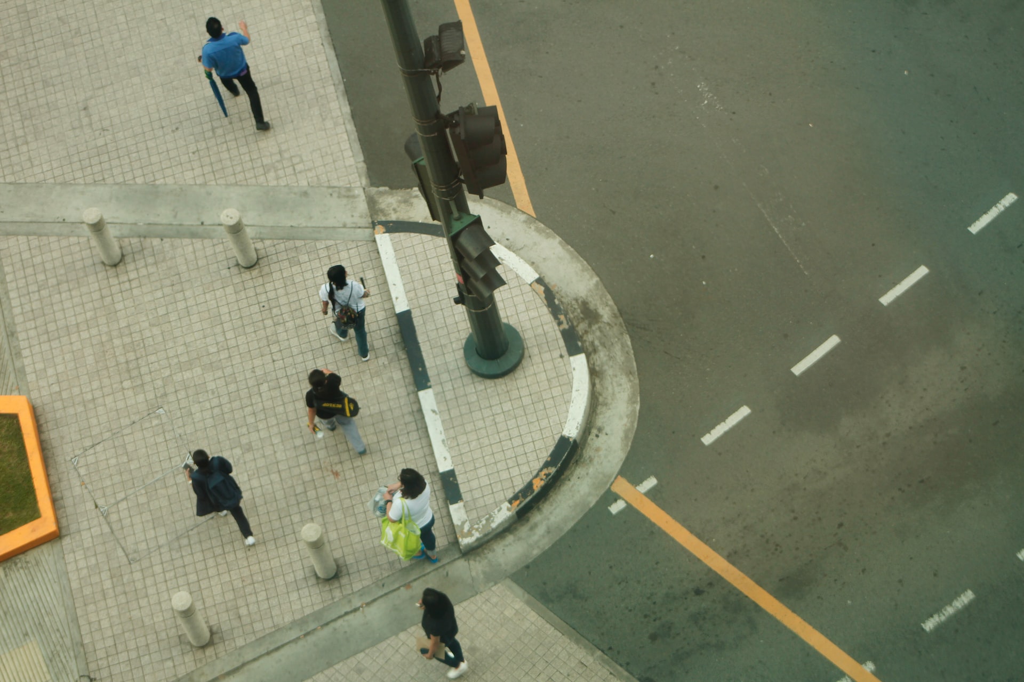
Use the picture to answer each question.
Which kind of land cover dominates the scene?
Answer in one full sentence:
The scene is dominated by paved ground.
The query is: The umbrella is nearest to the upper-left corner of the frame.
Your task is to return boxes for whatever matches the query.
[198,62,228,120]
